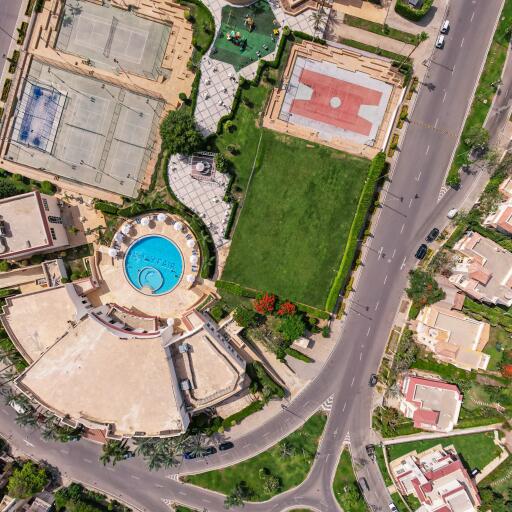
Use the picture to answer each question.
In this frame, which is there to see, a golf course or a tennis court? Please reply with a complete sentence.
The image shows a tennis court.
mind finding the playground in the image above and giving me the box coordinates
[210,0,280,72]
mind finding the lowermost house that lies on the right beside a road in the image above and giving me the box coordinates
[388,439,482,512]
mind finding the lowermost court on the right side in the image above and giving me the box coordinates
[278,57,393,146]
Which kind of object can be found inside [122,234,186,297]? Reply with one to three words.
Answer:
swimming pool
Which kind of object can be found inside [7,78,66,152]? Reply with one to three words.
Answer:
sports court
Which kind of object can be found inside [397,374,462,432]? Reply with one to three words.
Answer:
house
